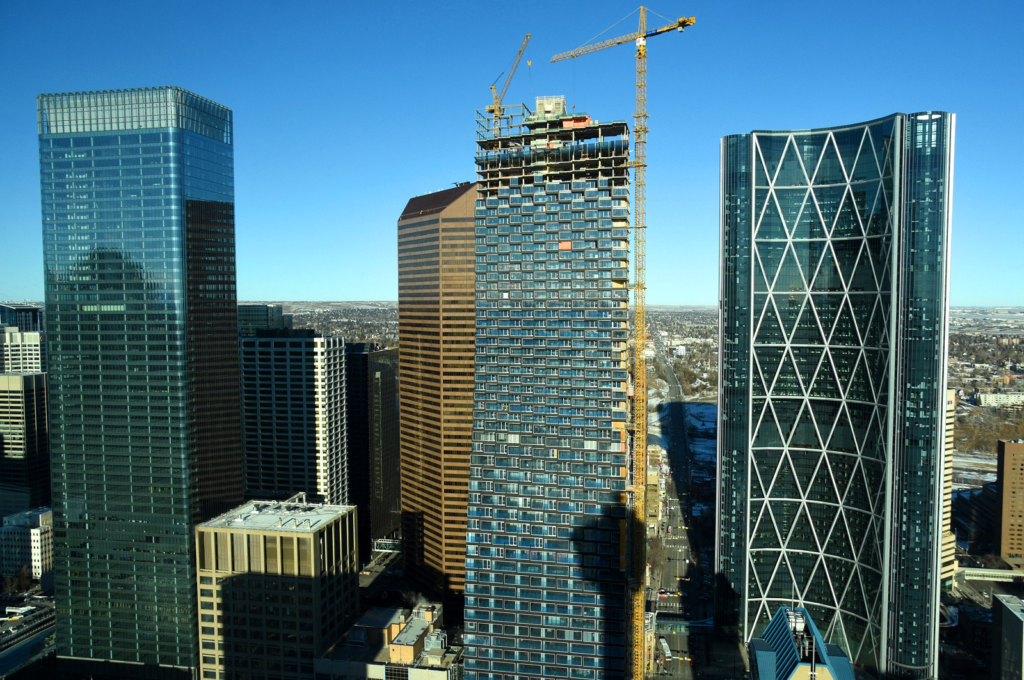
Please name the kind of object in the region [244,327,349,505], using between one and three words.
building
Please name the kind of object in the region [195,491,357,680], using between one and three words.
building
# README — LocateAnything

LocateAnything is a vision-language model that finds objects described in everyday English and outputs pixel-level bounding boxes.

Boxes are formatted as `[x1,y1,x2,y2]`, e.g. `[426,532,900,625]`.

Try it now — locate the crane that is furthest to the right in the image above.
[553,4,698,680]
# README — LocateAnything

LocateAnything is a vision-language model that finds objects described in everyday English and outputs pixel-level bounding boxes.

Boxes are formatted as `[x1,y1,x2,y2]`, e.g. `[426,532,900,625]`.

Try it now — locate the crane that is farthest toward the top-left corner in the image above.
[486,28,533,151]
